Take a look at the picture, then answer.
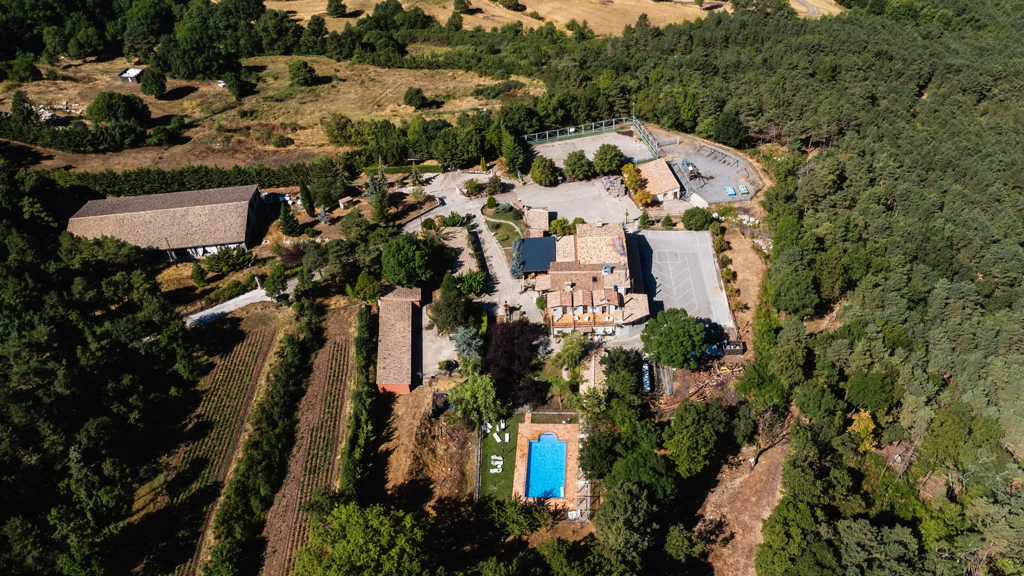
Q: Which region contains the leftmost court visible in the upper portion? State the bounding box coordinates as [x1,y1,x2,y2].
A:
[526,125,656,186]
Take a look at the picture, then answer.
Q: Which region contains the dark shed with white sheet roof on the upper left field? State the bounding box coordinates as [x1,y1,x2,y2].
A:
[113,67,144,84]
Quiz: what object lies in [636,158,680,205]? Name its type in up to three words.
building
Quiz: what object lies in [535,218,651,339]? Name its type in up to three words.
house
